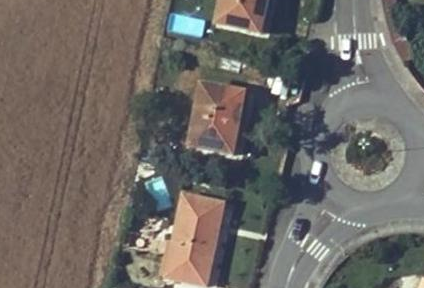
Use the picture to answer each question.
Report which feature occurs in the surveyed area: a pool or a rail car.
pool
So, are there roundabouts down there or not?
Yes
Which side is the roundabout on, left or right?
right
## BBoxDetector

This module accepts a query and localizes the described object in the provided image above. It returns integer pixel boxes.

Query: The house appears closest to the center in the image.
[184,78,246,160]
